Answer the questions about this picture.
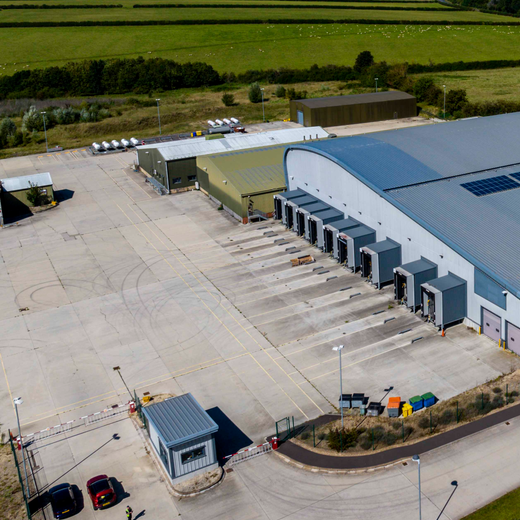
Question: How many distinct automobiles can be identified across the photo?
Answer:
2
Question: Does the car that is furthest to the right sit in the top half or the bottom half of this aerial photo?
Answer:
bottom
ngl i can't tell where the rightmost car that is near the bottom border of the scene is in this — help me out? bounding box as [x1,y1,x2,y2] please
[83,470,117,508]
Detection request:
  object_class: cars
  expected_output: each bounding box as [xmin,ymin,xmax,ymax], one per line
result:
[45,477,78,516]
[83,470,117,508]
